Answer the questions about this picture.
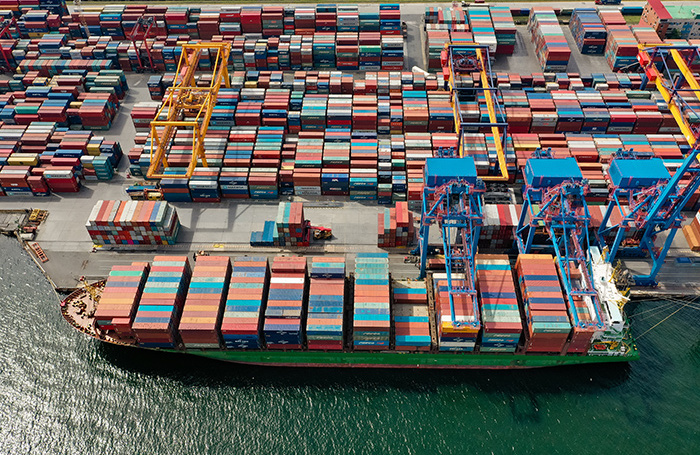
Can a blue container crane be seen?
Yes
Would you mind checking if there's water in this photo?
Yes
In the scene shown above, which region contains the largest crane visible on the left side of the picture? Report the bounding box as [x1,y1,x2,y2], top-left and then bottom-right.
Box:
[147,42,228,178]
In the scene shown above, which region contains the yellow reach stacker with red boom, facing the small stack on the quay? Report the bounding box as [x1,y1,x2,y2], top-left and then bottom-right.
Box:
[300,218,332,242]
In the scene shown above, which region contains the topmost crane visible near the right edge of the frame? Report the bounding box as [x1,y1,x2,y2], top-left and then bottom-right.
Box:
[628,40,700,177]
